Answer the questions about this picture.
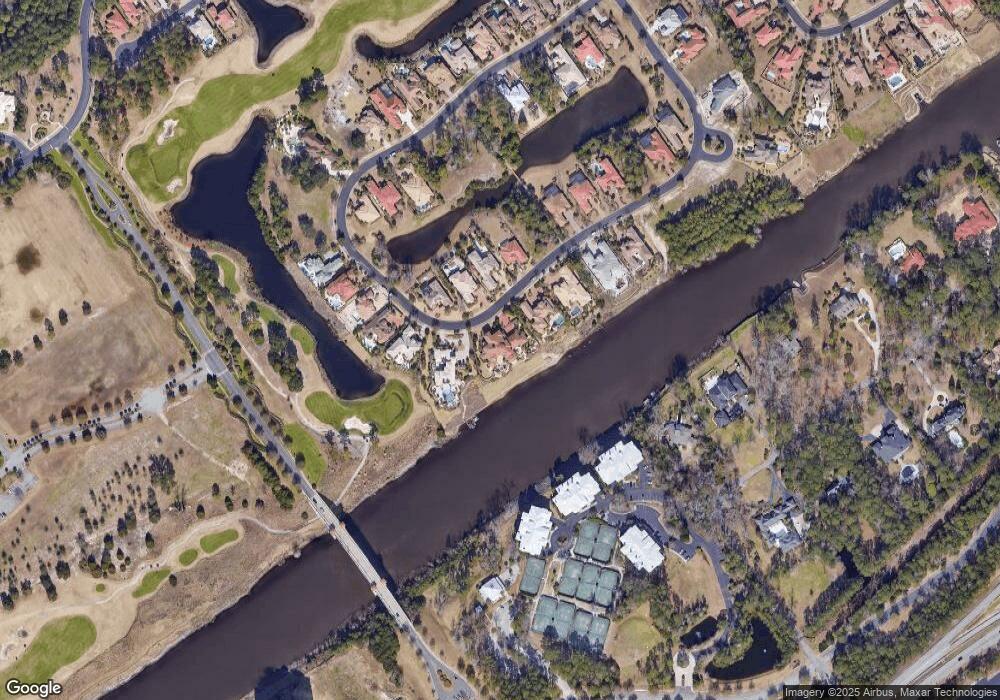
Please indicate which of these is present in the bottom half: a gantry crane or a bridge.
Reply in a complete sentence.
The one visible in the bottom half is a bridge.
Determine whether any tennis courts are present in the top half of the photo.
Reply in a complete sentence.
No, the scene shows no tennis court in the top half of the photo.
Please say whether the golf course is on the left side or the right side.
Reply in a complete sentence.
It is on the left.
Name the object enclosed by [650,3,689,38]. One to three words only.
house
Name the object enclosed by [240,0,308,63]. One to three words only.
pond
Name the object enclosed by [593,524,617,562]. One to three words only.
tennis court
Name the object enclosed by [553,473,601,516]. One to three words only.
building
